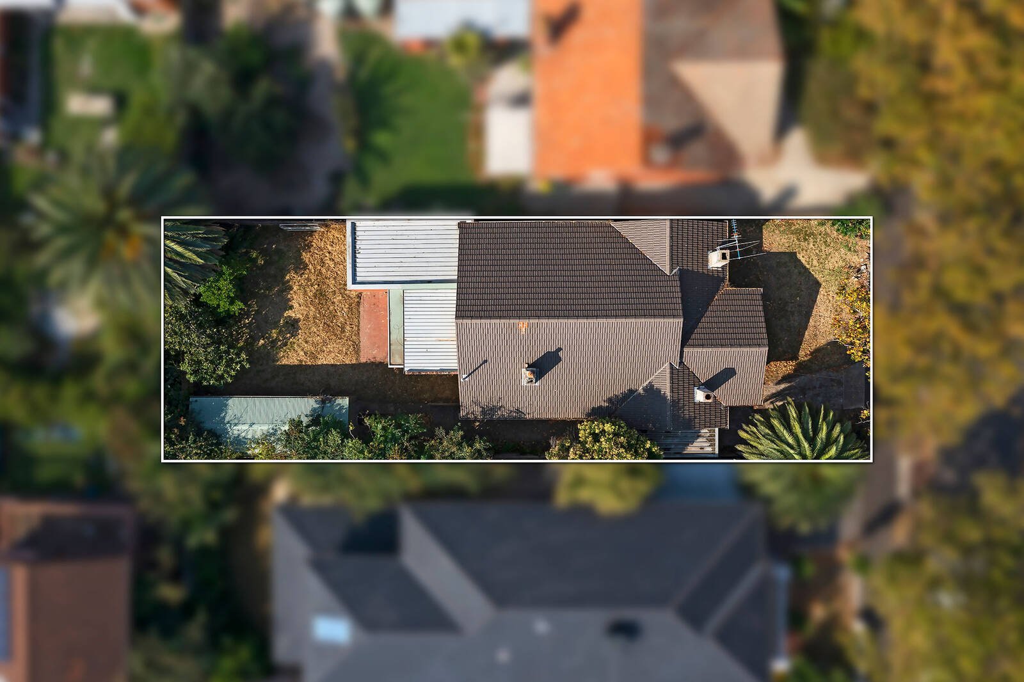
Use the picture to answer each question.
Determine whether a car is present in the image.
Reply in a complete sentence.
No, I can see no car in this picture.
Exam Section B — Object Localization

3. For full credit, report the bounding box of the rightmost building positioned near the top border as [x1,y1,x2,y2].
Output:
[531,0,788,182]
